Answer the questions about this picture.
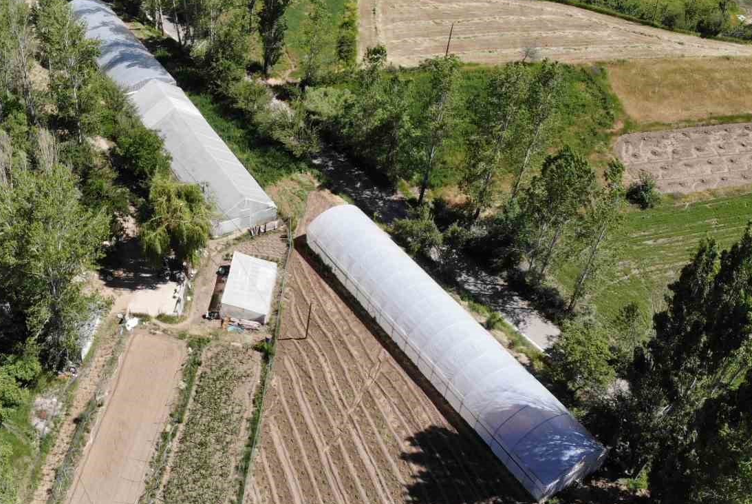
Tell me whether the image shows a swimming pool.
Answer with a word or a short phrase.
No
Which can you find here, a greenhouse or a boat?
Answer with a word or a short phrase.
greenhouse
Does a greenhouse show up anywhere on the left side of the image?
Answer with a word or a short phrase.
Yes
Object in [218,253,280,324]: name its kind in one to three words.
greenhouse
